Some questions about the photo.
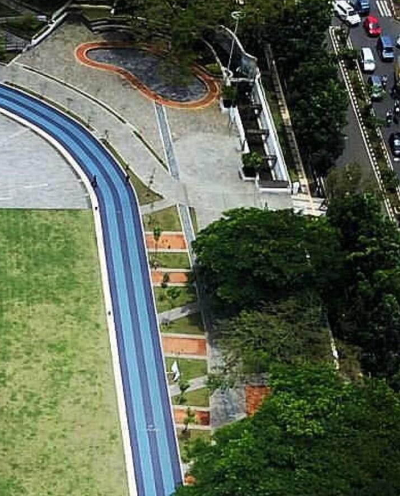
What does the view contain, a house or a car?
car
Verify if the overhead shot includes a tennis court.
No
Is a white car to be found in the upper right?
Yes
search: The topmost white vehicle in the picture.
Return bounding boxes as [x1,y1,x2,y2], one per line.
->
[334,1,361,25]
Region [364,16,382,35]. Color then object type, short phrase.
red car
